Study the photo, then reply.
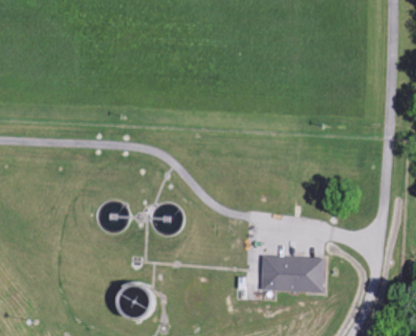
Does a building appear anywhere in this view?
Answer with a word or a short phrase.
Yes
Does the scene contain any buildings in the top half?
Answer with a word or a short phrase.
No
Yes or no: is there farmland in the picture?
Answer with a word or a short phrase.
Yes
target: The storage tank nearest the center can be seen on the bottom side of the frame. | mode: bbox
[151,200,186,236]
